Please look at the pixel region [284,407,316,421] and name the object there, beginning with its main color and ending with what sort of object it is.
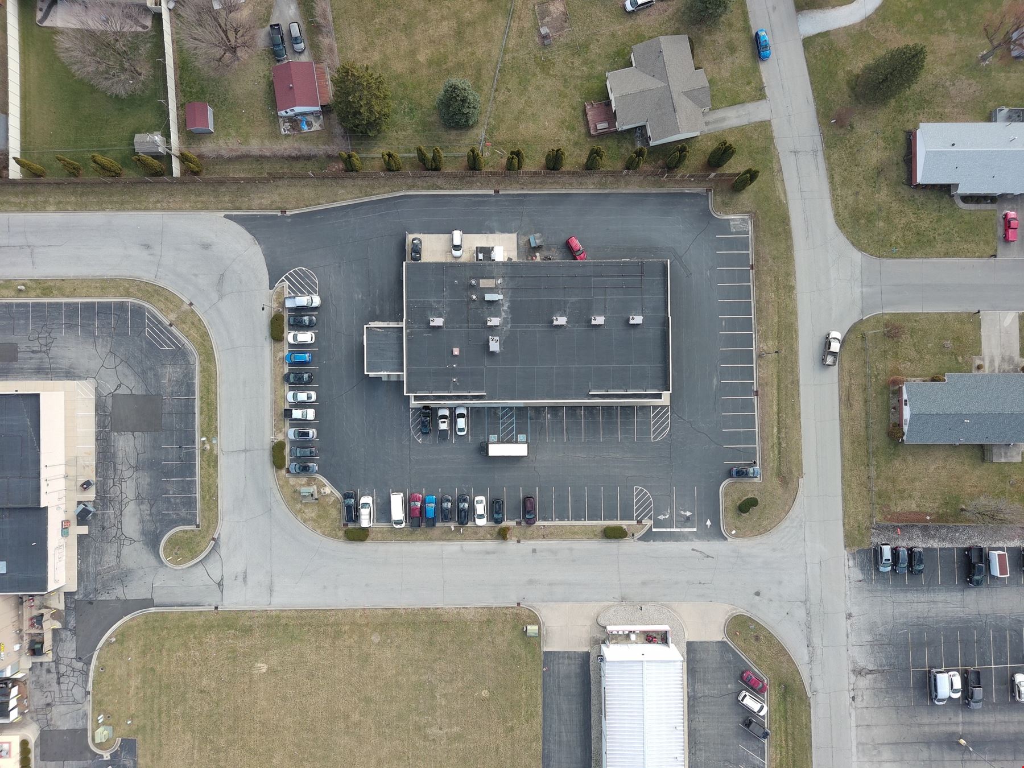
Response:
white vehicle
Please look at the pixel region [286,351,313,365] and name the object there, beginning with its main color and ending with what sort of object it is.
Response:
blue car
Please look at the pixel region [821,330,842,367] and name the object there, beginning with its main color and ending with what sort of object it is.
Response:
white truck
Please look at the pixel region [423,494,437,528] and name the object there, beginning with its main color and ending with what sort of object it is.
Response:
blue vehicle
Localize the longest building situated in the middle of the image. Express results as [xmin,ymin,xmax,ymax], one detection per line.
[404,260,672,406]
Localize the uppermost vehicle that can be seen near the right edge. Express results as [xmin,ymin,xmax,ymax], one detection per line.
[1001,210,1020,244]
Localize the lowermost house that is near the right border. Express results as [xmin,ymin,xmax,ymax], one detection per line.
[897,373,1024,444]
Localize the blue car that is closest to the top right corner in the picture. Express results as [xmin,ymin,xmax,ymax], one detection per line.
[754,28,772,61]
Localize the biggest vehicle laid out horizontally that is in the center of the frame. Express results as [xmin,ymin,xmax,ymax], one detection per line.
[478,443,527,460]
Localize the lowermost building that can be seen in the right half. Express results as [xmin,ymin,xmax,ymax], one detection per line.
[601,646,685,768]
